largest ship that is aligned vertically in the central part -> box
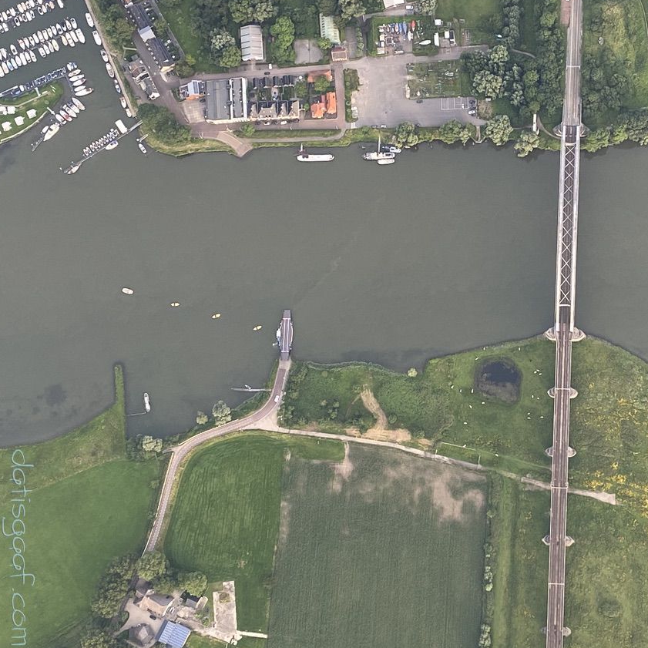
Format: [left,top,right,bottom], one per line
[273,311,293,359]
